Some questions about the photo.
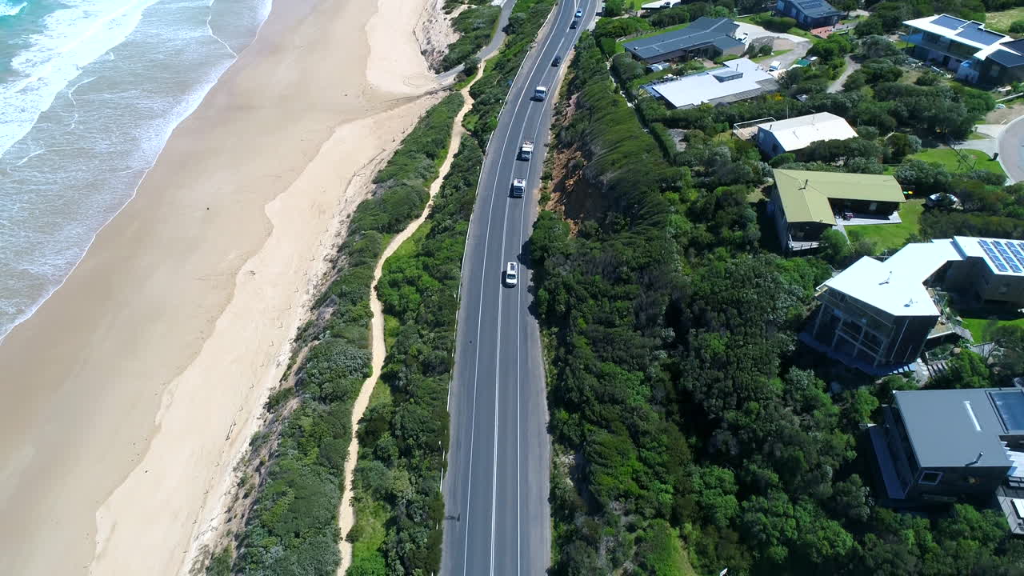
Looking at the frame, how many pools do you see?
0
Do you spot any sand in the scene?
Yes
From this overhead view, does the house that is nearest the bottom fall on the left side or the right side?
right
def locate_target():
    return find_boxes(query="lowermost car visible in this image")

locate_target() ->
[505,262,518,284]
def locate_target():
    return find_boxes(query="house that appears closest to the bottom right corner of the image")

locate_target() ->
[859,385,1024,537]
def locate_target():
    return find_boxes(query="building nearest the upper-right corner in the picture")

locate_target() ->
[903,14,1024,90]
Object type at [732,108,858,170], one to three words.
house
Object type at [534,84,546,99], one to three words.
vehicle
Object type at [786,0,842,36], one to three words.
house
